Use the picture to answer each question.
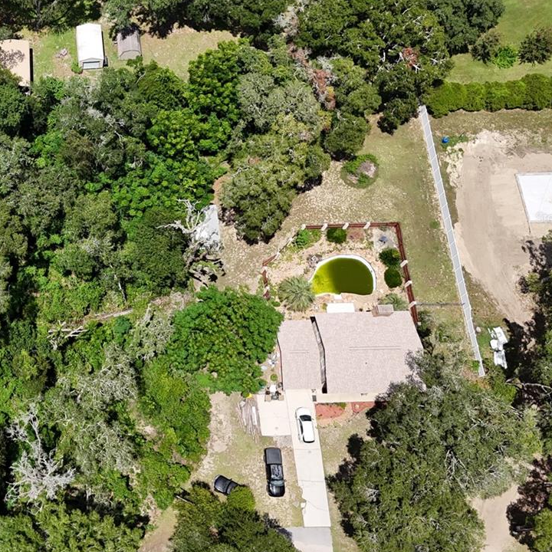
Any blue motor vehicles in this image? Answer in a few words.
No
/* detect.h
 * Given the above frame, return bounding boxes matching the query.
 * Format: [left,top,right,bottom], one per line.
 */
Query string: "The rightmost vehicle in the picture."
[295,406,316,445]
